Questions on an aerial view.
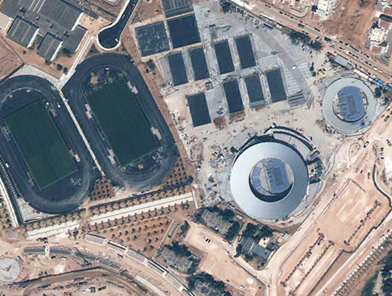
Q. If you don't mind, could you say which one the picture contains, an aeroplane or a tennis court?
tennis court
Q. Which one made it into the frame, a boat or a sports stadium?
sports stadium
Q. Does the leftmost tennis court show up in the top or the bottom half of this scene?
top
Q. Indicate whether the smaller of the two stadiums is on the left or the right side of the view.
right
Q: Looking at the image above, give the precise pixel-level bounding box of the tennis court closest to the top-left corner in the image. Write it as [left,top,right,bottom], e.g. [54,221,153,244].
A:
[135,21,169,57]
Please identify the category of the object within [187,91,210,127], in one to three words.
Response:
tennis court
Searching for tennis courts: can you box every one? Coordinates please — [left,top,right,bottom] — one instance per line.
[166,13,200,48]
[214,39,234,74]
[135,21,169,57]
[190,46,209,80]
[244,73,264,108]
[264,67,287,103]
[168,52,188,85]
[161,0,193,18]
[235,34,256,68]
[223,79,244,113]
[187,91,210,127]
